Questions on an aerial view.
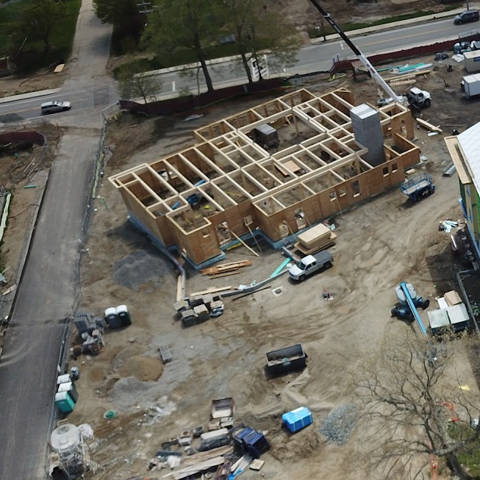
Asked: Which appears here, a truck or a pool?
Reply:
truck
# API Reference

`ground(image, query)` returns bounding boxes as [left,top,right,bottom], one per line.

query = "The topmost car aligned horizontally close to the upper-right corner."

[452,9,480,24]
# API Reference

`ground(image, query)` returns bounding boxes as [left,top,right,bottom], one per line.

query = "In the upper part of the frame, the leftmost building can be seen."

[107,87,421,268]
